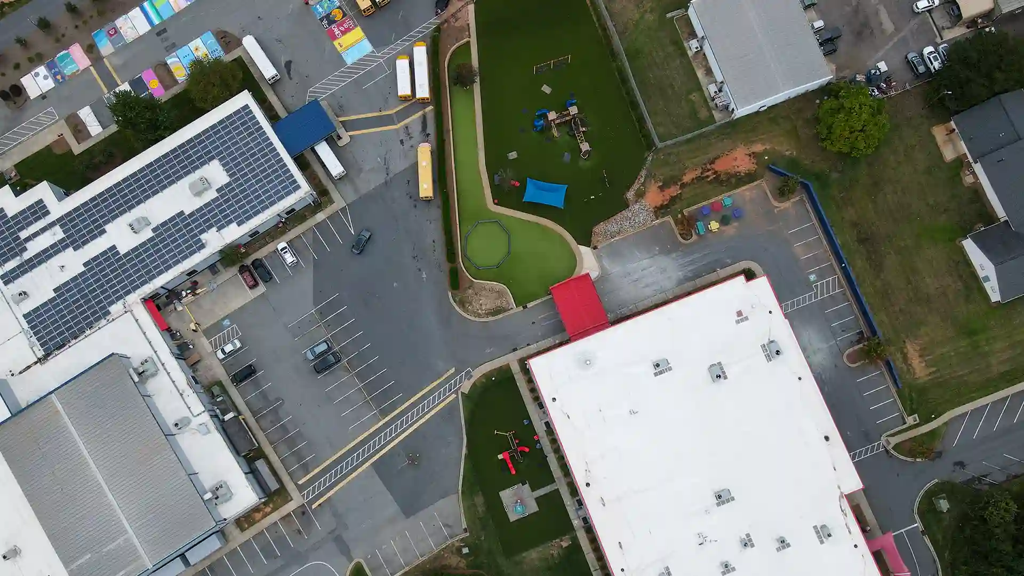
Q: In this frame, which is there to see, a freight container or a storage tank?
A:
freight container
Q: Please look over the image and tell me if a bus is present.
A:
Yes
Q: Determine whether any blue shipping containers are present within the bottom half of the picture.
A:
No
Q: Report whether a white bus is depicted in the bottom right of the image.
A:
No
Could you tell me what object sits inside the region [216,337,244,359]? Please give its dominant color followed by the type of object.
white car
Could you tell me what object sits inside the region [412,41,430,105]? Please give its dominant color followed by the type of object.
white vehicle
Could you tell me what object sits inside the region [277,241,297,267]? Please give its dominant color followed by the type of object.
white car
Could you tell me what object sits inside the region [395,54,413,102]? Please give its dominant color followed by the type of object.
white vehicle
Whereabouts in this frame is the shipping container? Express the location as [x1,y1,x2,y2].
[255,458,283,491]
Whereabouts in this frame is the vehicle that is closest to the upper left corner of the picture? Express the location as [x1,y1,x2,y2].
[240,33,283,87]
